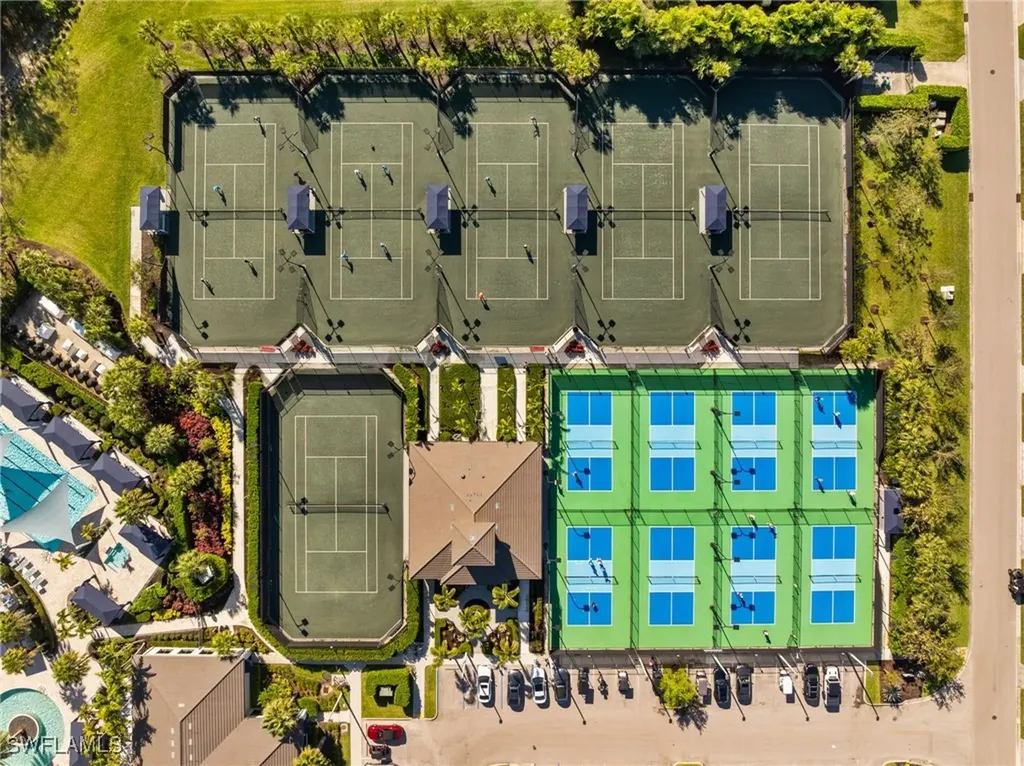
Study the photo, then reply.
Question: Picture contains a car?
Yes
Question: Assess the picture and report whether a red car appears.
Yes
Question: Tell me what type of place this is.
sports ground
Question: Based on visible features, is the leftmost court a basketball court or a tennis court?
tennis court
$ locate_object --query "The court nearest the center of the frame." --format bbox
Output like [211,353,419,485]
[552,371,633,510]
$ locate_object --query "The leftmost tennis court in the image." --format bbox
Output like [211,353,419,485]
[172,77,304,346]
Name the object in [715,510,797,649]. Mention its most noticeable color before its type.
green sports court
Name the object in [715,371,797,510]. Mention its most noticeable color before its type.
green sports court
